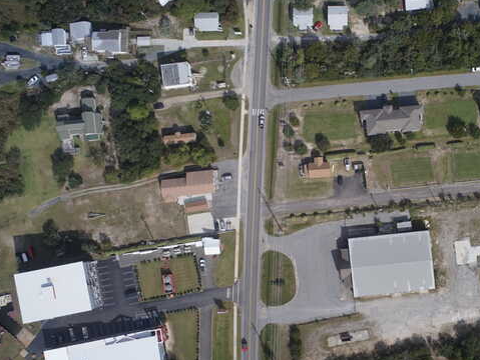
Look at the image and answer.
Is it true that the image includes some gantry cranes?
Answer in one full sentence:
No, the scene contains no gantry crane.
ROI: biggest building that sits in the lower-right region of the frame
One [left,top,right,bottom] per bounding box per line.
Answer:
[340,231,434,298]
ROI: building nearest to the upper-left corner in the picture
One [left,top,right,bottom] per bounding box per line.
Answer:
[41,29,67,47]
